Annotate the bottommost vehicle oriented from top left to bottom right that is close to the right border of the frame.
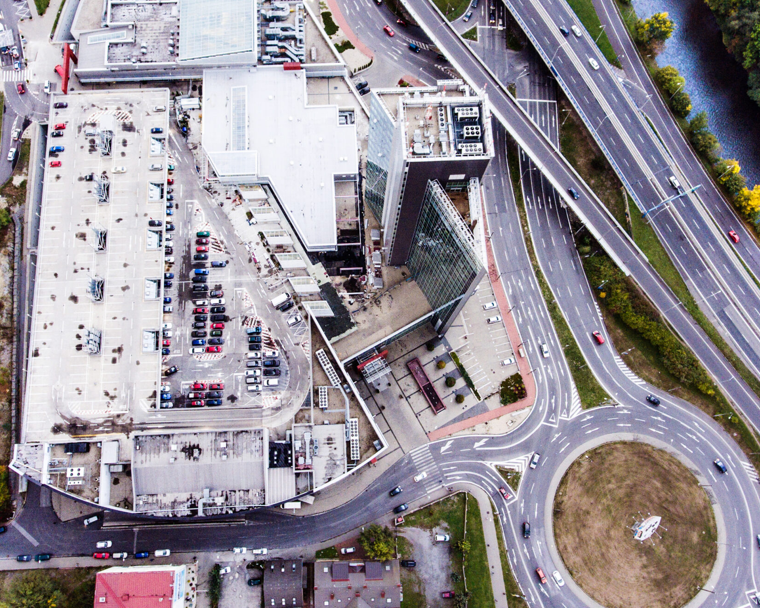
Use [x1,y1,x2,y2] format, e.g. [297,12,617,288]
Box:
[714,458,728,474]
